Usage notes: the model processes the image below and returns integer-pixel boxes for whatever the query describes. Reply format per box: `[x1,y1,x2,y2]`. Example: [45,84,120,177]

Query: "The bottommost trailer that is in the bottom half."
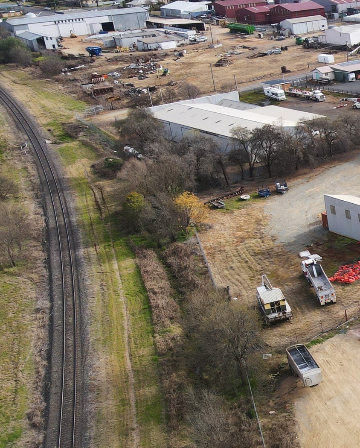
[279,334,322,378]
